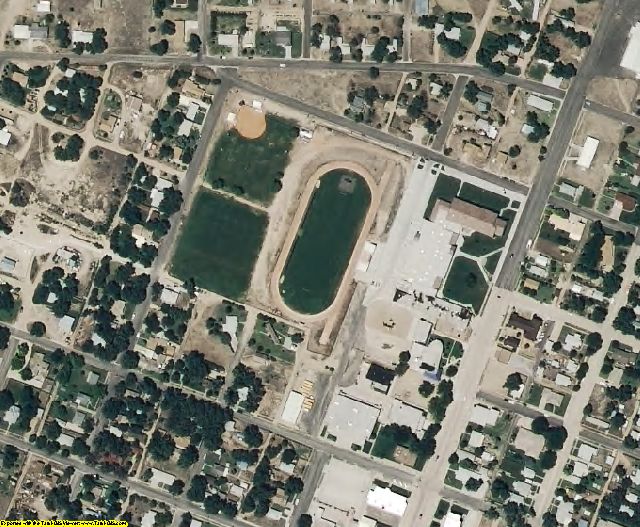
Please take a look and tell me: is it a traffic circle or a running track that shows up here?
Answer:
running track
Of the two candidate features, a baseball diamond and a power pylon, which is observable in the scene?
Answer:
baseball diamond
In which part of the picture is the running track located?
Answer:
center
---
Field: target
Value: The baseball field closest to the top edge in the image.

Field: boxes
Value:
[204,106,300,207]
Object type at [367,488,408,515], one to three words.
building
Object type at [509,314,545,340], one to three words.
house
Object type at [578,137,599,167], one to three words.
building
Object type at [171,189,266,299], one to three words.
sports field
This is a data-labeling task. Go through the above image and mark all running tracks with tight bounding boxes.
[271,159,379,344]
